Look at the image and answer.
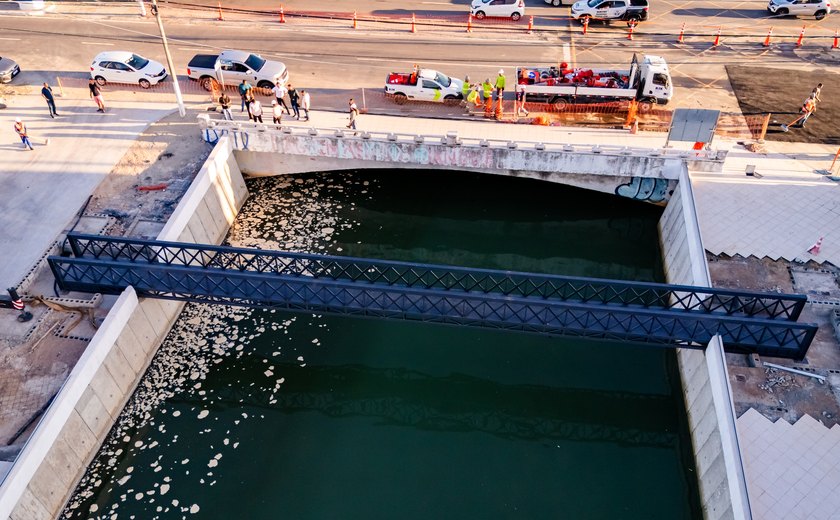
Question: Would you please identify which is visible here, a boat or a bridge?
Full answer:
There is a bridge in the scene.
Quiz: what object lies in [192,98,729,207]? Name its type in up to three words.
bridge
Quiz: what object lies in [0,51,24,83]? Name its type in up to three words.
car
